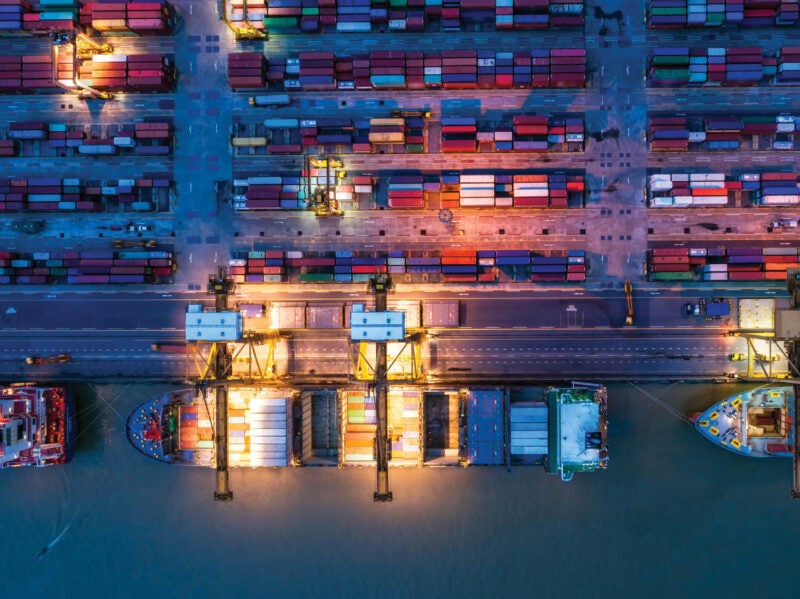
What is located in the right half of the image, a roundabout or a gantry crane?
gantry crane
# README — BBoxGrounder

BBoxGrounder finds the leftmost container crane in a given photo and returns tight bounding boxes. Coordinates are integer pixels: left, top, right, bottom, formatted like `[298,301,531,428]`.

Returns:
[52,28,109,99]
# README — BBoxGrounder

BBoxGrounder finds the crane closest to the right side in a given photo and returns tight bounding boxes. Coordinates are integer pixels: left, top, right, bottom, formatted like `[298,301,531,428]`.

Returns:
[730,258,800,498]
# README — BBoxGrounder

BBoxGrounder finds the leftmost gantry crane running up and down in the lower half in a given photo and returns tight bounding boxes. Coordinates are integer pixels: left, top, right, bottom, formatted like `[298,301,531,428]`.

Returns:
[186,262,291,501]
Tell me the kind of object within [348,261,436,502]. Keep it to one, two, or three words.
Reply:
container crane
